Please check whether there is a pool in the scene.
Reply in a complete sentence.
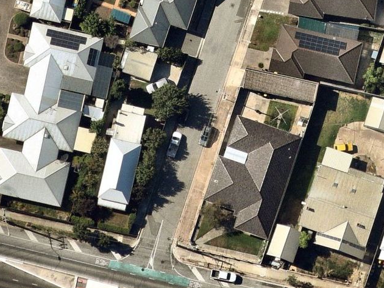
No, no pool is visible in the scene.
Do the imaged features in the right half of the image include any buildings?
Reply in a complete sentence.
Yes, in the right half of the image there is a building.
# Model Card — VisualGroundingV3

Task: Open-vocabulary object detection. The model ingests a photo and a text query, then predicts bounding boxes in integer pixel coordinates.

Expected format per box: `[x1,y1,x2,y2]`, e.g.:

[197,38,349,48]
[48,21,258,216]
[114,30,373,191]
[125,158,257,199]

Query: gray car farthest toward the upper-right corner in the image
[198,121,214,147]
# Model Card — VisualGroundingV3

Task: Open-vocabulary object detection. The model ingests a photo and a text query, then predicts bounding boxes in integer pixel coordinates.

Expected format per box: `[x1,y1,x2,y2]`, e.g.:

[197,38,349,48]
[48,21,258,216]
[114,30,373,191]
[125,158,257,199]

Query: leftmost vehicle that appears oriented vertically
[168,130,183,158]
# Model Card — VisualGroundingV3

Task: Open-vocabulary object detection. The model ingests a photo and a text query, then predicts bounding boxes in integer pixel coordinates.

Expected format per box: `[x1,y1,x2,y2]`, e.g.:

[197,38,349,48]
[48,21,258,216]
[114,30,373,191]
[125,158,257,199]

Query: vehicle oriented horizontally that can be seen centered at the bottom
[209,269,238,283]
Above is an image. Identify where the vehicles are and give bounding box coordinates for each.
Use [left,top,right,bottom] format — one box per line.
[198,121,214,147]
[334,141,353,151]
[168,130,183,158]
[147,75,173,90]
[209,269,238,283]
